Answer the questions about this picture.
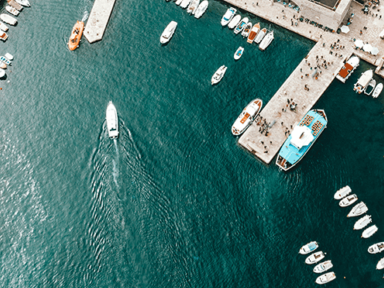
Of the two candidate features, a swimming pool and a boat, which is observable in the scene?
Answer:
boat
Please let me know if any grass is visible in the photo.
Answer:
No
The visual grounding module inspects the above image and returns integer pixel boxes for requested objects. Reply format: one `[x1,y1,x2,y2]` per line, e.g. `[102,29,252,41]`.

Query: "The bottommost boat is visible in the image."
[316,268,339,286]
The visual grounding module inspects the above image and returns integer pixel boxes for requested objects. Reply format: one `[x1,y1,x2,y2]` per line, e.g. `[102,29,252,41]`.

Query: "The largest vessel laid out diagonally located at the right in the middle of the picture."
[274,107,328,175]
